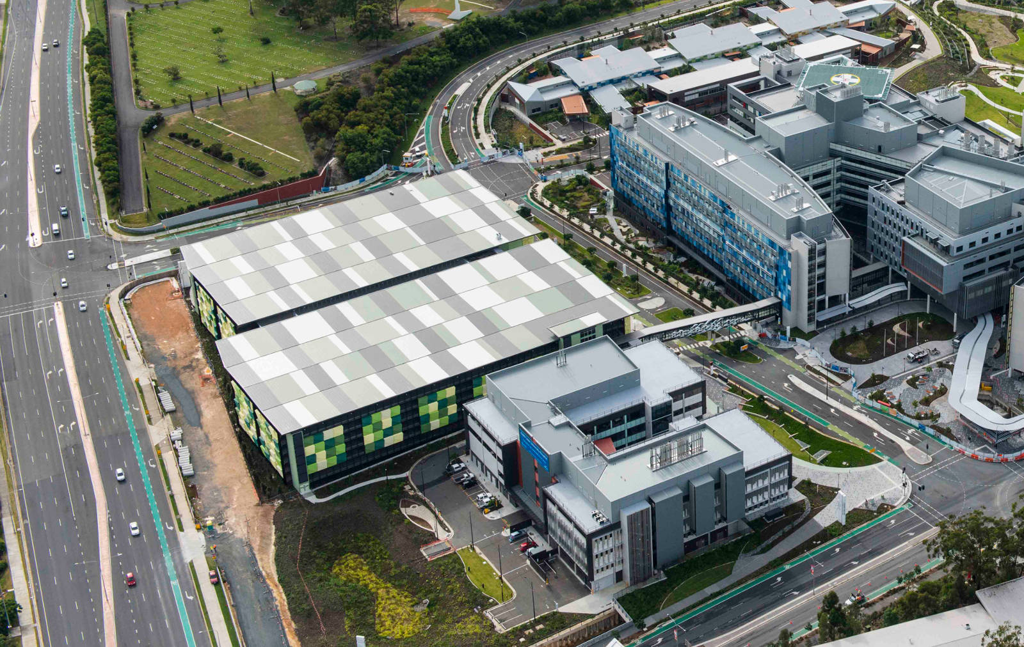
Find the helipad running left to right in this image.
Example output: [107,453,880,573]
[789,55,901,109]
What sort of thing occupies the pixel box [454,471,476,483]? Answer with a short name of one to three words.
vehicle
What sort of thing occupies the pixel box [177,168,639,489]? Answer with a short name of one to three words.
building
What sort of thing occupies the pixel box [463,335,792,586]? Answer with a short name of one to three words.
building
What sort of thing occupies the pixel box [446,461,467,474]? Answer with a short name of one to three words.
vehicle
